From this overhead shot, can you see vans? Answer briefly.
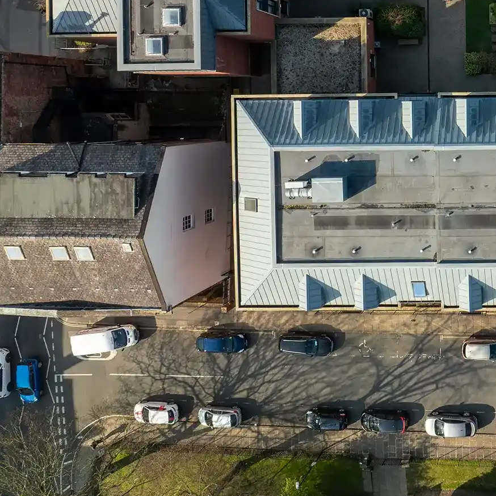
Yes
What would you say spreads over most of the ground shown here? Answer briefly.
buildings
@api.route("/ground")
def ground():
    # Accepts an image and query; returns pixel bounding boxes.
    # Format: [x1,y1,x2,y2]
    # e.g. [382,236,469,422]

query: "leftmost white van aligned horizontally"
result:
[66,325,139,358]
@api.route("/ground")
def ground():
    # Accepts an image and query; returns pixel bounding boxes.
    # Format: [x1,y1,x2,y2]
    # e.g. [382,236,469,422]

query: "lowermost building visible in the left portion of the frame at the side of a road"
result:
[0,139,230,316]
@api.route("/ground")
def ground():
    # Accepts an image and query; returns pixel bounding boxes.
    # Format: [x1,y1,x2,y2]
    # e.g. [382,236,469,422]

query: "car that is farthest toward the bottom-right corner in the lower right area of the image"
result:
[426,411,479,440]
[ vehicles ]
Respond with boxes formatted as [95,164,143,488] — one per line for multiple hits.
[362,408,410,435]
[0,346,16,401]
[463,336,496,360]
[135,399,181,427]
[426,411,479,440]
[66,325,139,358]
[197,331,250,357]
[199,403,244,431]
[279,332,334,360]
[15,357,47,402]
